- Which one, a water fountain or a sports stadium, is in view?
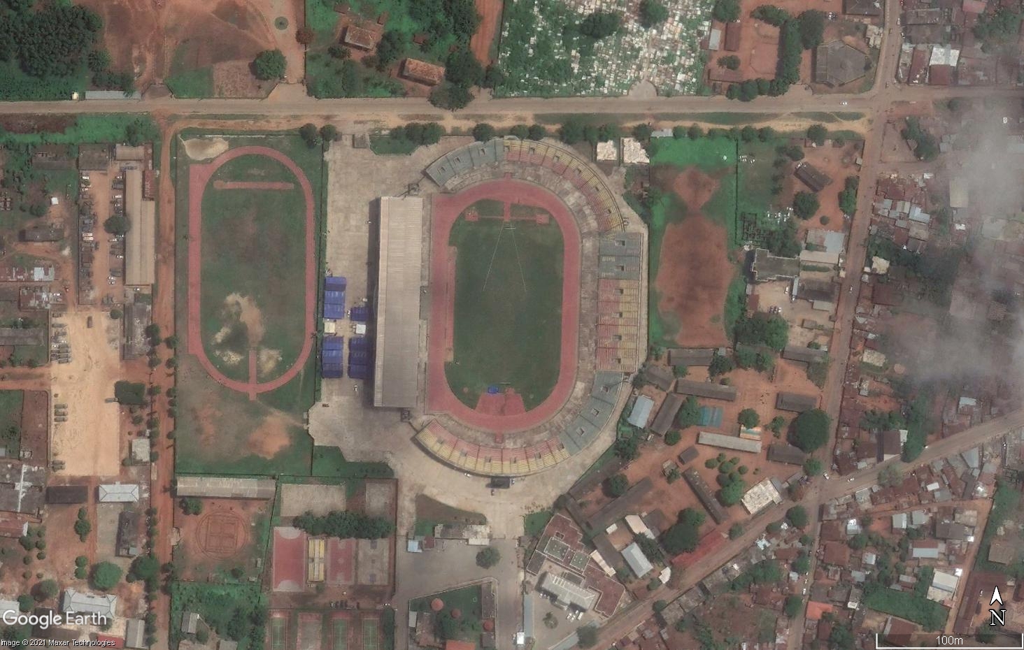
sports stadium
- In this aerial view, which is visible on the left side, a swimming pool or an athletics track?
athletics track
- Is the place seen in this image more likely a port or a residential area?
residential area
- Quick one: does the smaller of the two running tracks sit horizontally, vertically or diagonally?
vertically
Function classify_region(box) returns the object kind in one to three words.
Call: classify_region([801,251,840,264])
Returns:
house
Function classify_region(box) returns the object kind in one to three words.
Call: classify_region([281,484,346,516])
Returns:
sports court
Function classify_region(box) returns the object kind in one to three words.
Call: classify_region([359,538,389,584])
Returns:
basketball court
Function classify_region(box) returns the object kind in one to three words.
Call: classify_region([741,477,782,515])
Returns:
building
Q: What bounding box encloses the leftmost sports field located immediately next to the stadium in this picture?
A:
[201,154,306,383]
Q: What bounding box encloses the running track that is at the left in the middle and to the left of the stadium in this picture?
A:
[188,146,316,401]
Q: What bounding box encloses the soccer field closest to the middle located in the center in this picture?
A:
[444,199,564,411]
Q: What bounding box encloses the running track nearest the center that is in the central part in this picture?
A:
[426,174,581,443]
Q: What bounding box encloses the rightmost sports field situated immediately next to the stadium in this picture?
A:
[650,135,734,347]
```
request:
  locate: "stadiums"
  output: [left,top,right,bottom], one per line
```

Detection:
[308,134,649,540]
